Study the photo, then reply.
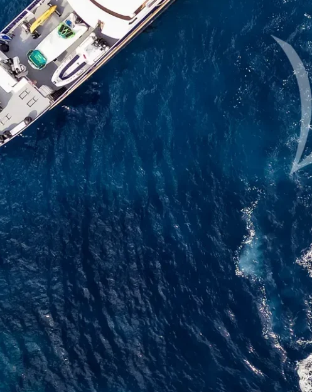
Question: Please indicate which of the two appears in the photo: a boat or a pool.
boat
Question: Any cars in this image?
No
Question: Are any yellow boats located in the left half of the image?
Yes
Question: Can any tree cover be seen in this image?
No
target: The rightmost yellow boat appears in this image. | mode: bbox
[21,2,64,38]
